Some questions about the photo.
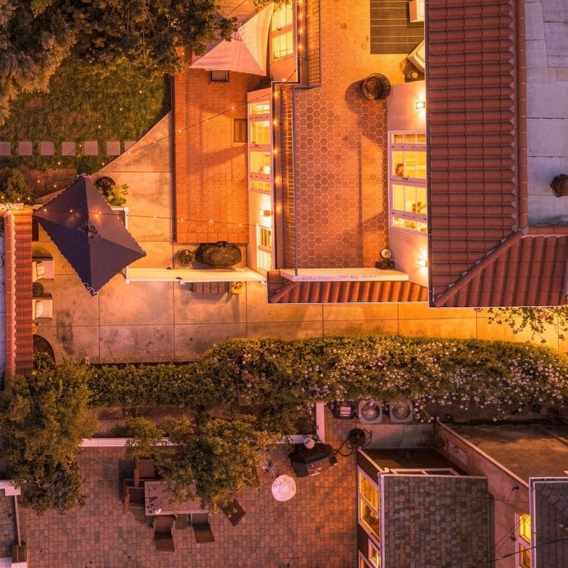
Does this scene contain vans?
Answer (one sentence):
No, the photo shows no van.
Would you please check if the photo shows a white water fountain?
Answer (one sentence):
No, I find no white water fountain anywhere in the image.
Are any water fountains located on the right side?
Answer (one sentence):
No, the scene shows no water fountain on the right side.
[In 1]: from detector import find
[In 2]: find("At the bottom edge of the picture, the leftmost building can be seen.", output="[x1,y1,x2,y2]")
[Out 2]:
[357,449,487,568]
